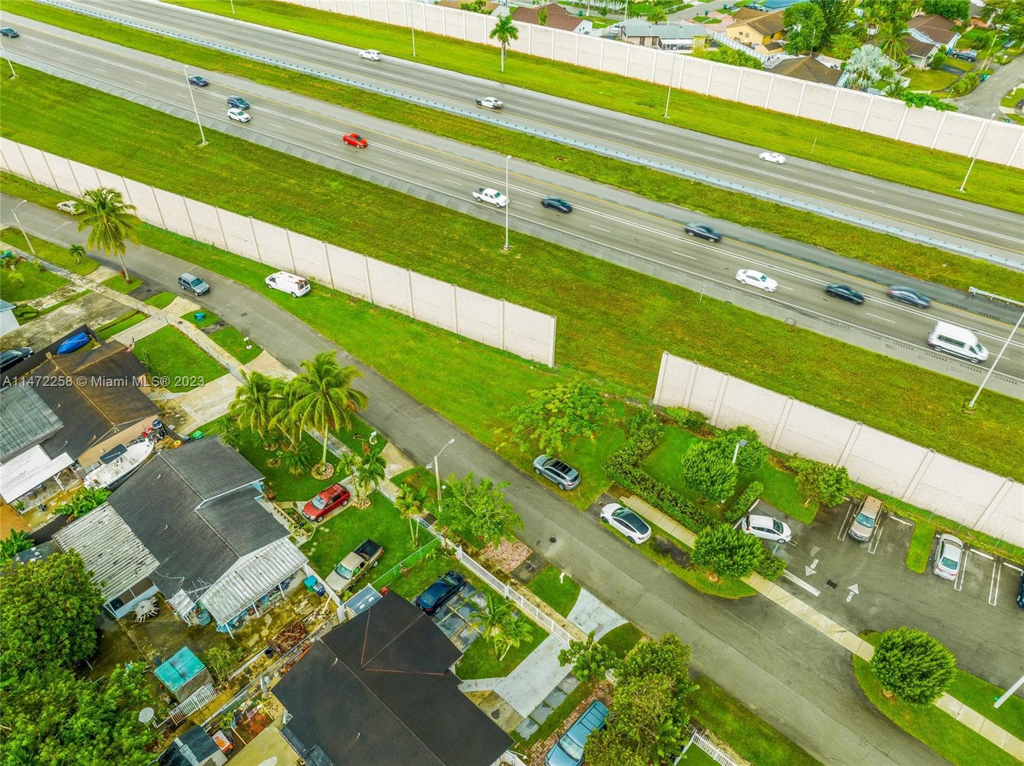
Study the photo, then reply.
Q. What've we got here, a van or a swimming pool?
van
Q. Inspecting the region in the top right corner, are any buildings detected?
Yes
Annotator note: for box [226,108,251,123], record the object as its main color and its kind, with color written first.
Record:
white car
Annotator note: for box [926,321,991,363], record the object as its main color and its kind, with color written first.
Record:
white van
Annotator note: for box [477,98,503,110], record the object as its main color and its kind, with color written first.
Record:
white vehicle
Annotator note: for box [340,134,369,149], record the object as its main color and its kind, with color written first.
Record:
red car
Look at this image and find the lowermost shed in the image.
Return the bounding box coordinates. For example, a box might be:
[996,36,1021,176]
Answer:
[150,725,226,766]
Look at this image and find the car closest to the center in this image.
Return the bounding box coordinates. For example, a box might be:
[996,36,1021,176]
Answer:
[529,455,585,490]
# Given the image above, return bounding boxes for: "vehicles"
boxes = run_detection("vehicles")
[930,531,967,583]
[225,95,251,110]
[407,566,472,615]
[186,75,211,88]
[735,271,777,293]
[226,108,251,123]
[822,284,866,307]
[340,134,369,149]
[885,287,931,310]
[53,200,89,216]
[529,455,585,490]
[471,188,510,208]
[739,513,795,545]
[0,28,19,38]
[845,495,887,543]
[756,152,789,166]
[539,197,574,215]
[596,502,656,546]
[174,270,213,297]
[296,481,356,524]
[926,321,991,363]
[319,537,392,596]
[264,271,313,298]
[359,51,381,61]
[544,694,612,766]
[684,224,722,243]
[952,49,977,62]
[477,98,503,110]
